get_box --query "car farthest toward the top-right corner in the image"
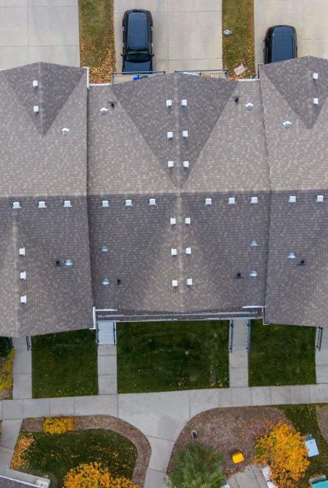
[263,17,300,64]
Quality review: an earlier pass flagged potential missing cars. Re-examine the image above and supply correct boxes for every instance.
[118,1,158,77]
[263,17,300,64]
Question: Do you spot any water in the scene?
No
